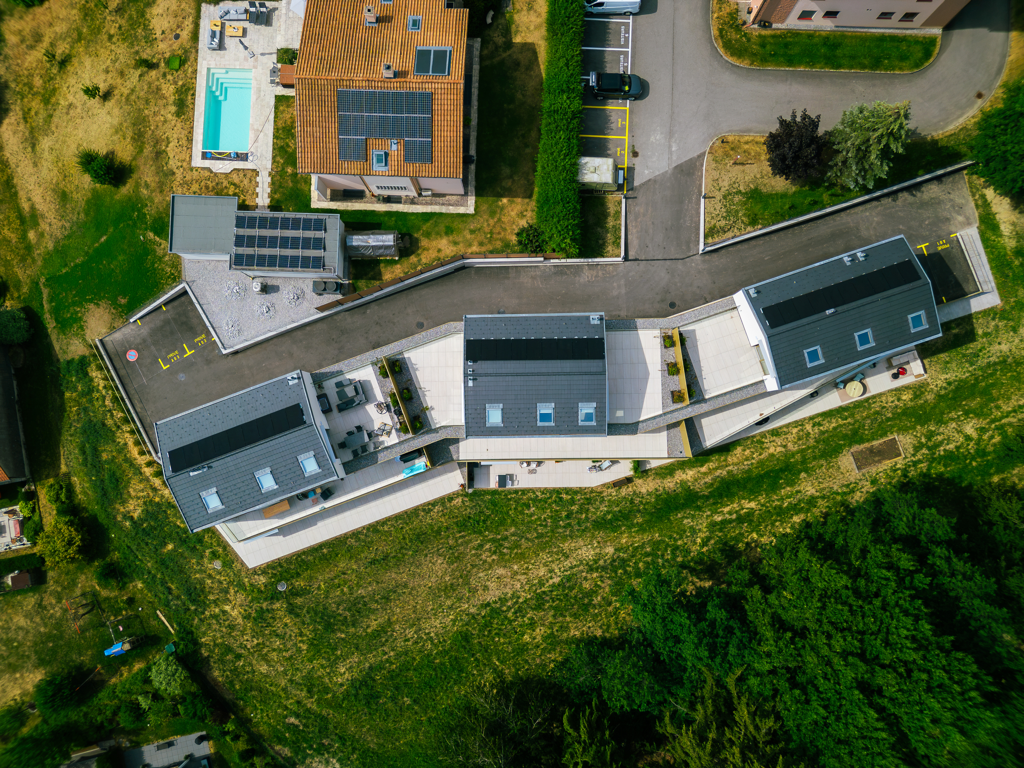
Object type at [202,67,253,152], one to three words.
swimming pool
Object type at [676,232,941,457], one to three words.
house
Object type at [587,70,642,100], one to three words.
car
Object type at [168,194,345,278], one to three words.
building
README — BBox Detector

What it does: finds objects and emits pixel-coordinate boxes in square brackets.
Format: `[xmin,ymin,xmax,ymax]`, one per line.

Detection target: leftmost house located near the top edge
[293,0,470,200]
